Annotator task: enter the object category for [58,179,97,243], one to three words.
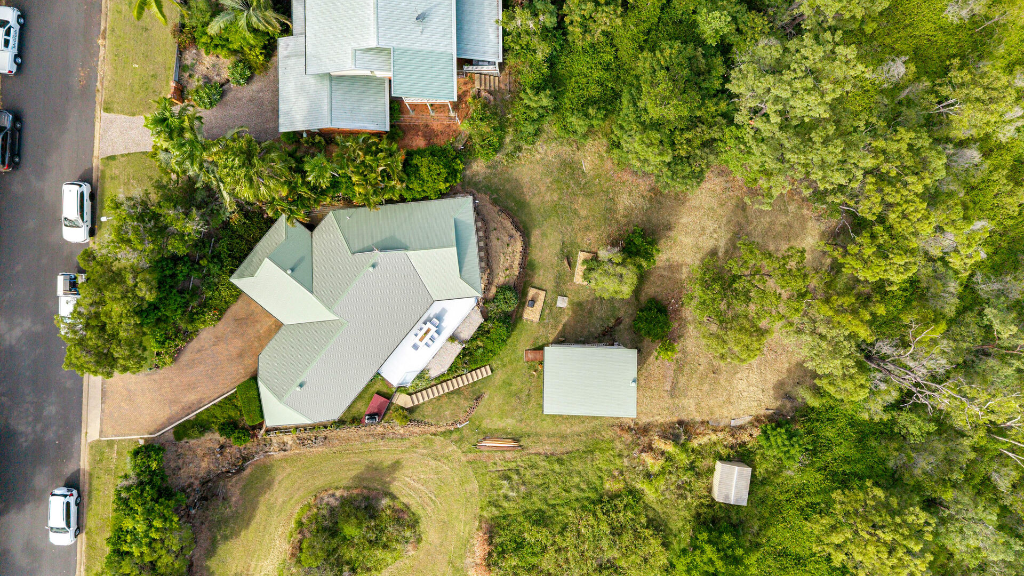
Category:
car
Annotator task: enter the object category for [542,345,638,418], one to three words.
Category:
shed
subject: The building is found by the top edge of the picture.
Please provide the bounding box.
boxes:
[278,0,503,136]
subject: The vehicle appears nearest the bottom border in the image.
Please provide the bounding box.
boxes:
[46,486,83,546]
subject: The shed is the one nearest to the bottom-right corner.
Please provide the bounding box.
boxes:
[712,457,751,506]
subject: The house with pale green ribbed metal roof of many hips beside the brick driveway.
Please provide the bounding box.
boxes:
[229,195,483,428]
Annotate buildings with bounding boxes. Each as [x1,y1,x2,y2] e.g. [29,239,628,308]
[712,457,751,506]
[278,0,503,136]
[542,345,638,418]
[229,195,483,428]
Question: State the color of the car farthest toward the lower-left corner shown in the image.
white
